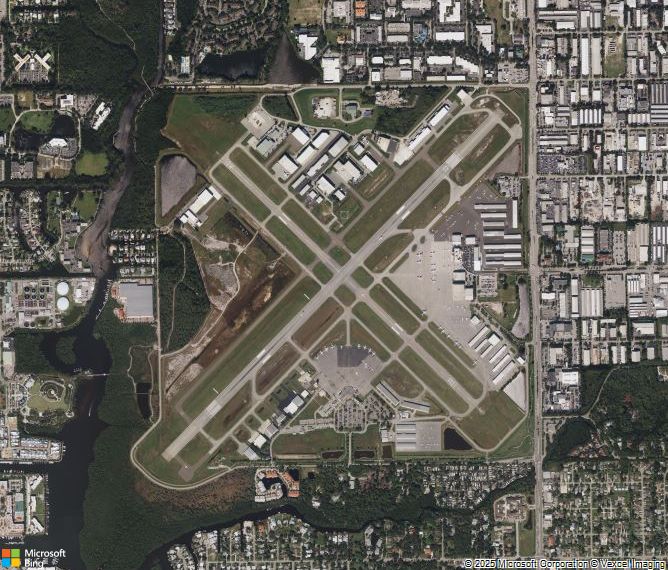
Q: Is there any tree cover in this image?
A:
Yes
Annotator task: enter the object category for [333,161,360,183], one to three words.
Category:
hangar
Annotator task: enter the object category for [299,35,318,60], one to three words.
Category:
building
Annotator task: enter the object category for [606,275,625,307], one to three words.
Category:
building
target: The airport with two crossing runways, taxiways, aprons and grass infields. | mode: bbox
[130,83,531,489]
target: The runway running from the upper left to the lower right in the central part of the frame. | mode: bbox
[219,155,478,407]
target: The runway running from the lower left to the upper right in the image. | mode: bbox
[162,112,502,461]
